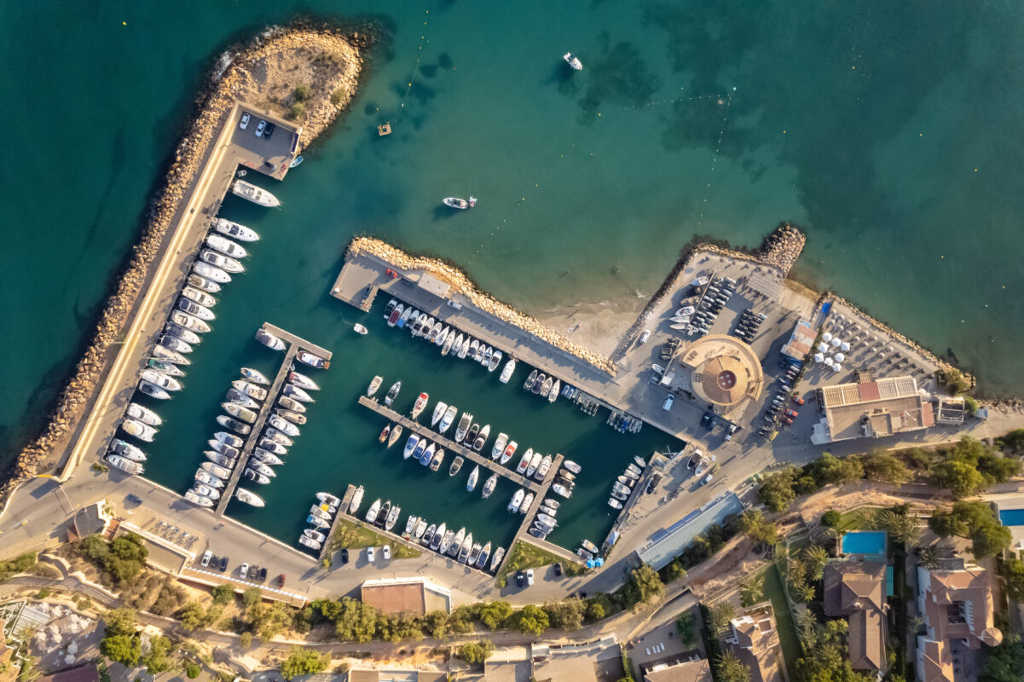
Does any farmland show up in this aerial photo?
No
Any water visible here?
Yes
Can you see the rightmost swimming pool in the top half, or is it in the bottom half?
bottom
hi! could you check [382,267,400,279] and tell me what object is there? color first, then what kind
red vehicle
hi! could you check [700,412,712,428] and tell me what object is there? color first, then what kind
black vehicle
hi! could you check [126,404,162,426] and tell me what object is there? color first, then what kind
white boat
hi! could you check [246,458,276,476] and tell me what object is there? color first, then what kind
white boat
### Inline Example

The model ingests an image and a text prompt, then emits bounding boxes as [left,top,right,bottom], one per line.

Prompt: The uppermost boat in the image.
[562,51,582,69]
